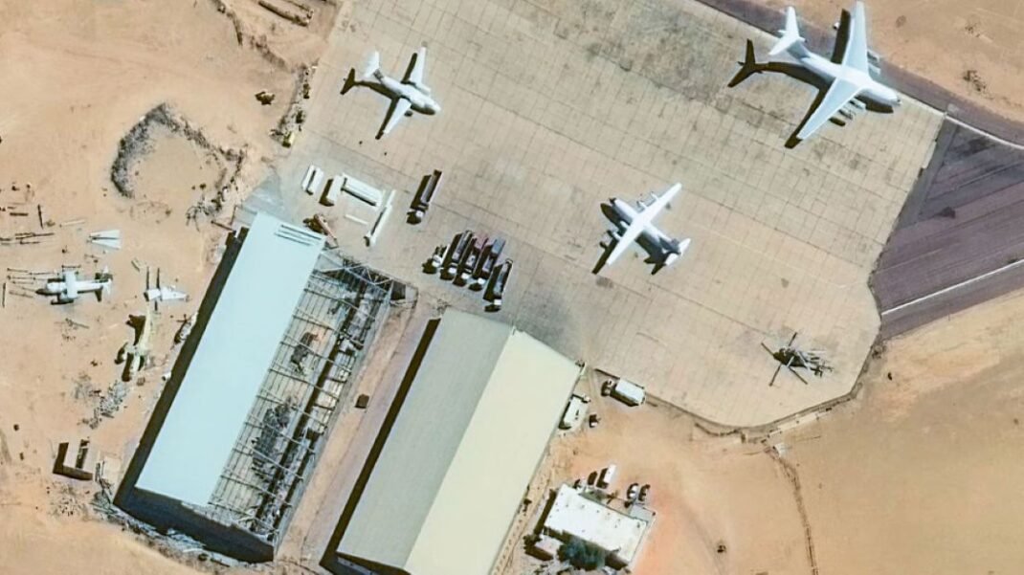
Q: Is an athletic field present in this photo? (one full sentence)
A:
No, the picture doesn't show any athletic field.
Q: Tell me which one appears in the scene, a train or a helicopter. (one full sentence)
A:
The image shows a helicopter.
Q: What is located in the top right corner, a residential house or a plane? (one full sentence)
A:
The one visible in the top right corner is a plane.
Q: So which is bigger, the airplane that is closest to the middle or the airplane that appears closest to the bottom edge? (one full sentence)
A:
The airplane that is closest to the middle covers a greater area than the airplane that appears closest to the bottom edge.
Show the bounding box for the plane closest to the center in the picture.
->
[608,183,688,268]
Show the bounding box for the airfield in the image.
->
[232,0,1024,428]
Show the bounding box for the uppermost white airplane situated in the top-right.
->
[767,2,899,138]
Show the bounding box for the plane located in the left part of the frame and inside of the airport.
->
[362,46,441,132]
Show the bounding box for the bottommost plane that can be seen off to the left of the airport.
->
[123,304,149,381]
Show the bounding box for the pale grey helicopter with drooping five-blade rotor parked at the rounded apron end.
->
[769,328,830,382]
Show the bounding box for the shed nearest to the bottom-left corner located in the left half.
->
[64,437,100,481]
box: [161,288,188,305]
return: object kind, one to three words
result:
airplane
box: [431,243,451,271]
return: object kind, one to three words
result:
vehicle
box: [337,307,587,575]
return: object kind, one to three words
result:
hangar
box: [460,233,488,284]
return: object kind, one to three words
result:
truck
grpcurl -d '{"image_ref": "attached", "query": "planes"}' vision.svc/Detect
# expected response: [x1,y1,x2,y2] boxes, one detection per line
[123,304,149,381]
[47,268,110,302]
[767,2,899,138]
[608,183,688,268]
[161,288,188,305]
[362,46,441,132]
